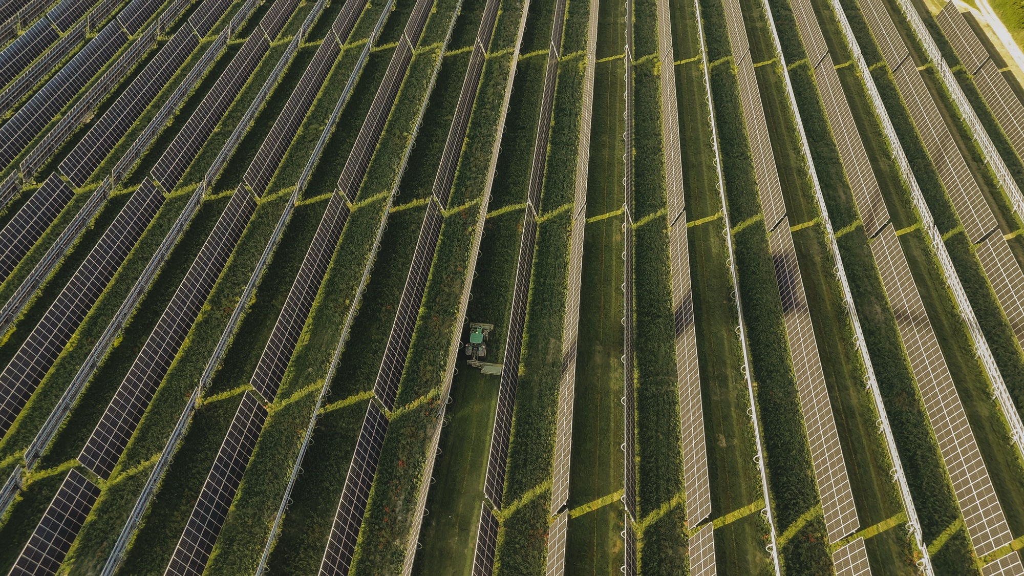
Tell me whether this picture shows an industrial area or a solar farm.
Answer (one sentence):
It's a solar farm.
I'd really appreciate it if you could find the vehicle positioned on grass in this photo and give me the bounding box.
[464,321,502,378]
